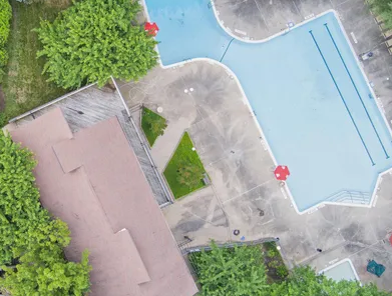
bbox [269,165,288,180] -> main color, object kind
red umbrella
